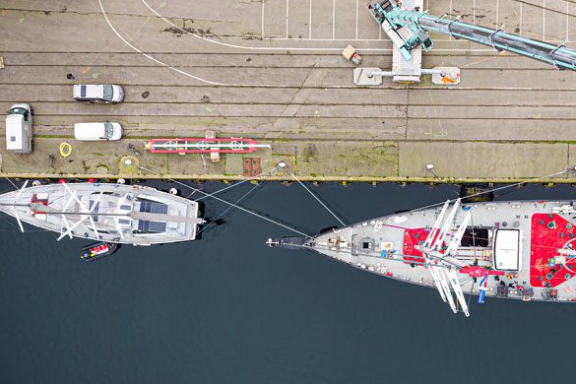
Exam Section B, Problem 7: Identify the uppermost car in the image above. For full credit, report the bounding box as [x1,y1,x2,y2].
[73,81,124,104]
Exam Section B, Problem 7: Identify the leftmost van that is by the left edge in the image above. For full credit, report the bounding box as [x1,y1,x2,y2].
[0,104,35,154]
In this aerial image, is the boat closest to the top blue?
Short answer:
No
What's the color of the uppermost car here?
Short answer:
white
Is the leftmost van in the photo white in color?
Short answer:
Yes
